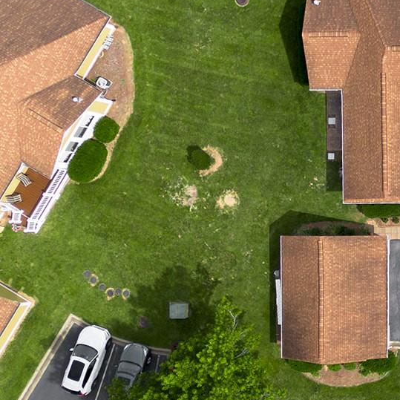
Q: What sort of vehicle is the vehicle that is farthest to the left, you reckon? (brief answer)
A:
automobile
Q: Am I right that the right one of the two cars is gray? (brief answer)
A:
Yes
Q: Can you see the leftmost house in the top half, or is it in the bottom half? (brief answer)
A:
bottom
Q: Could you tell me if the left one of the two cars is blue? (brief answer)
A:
No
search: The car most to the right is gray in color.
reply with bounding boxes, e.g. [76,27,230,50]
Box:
[106,336,155,400]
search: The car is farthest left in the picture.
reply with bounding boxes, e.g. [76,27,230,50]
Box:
[63,322,114,399]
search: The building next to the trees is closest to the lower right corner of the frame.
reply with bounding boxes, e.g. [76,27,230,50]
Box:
[279,235,391,364]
